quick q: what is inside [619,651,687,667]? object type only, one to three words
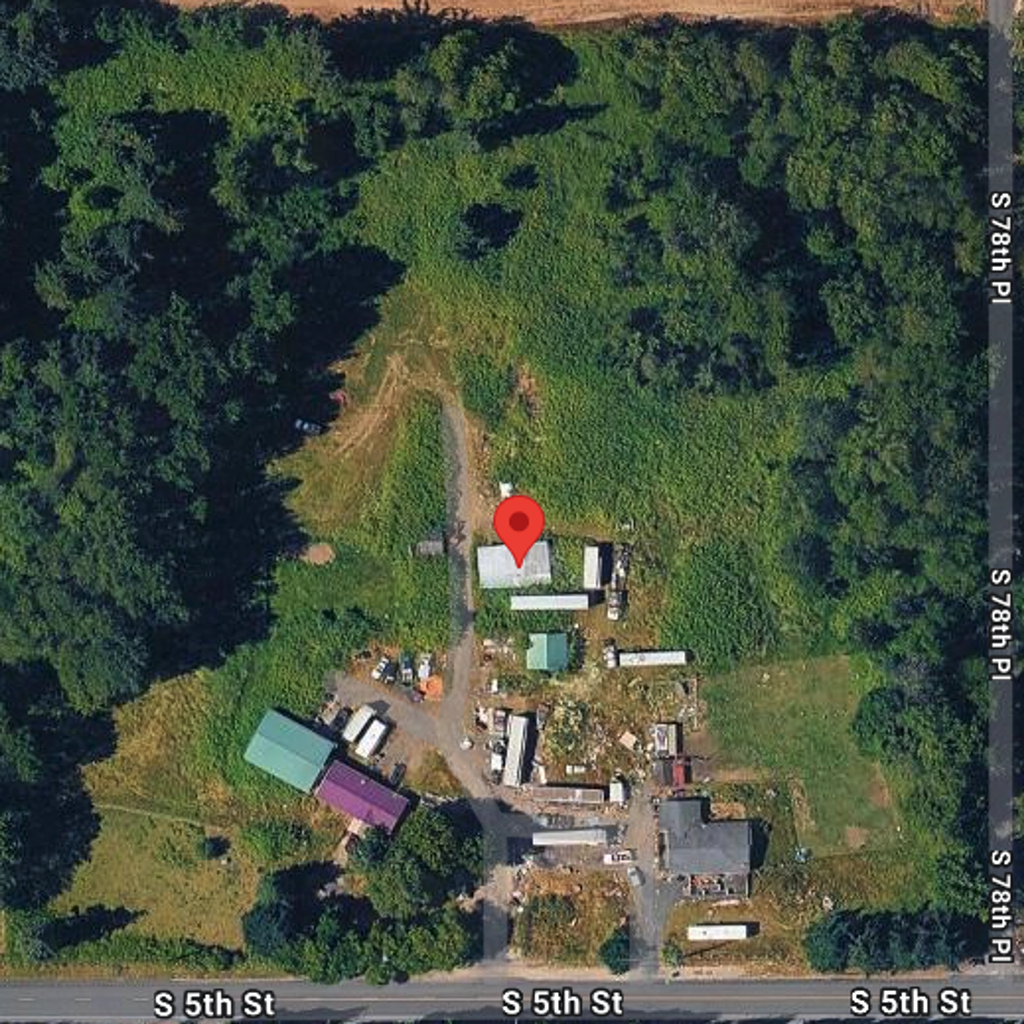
trailer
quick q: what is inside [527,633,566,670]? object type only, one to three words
shed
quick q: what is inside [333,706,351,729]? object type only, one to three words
car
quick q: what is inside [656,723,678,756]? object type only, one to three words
shed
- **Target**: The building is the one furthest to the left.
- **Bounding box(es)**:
[244,709,337,793]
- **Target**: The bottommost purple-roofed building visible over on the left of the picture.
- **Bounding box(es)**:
[315,760,408,834]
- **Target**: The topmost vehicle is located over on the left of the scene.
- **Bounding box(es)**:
[294,419,321,431]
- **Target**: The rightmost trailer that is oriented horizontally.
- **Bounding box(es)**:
[688,925,748,939]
